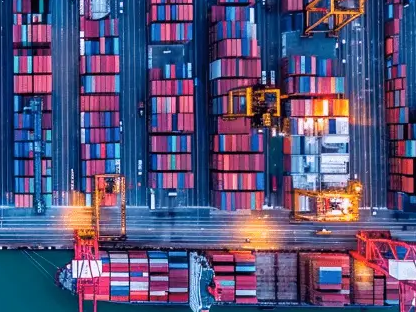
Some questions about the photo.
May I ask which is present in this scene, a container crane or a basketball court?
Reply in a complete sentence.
I can see a container crane in this picture.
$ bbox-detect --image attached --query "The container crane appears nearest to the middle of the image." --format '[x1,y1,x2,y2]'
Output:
[232,83,281,122]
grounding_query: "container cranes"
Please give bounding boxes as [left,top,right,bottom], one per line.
[304,0,365,38]
[349,227,416,312]
[292,185,363,223]
[88,171,126,240]
[232,83,281,122]
[64,227,107,312]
